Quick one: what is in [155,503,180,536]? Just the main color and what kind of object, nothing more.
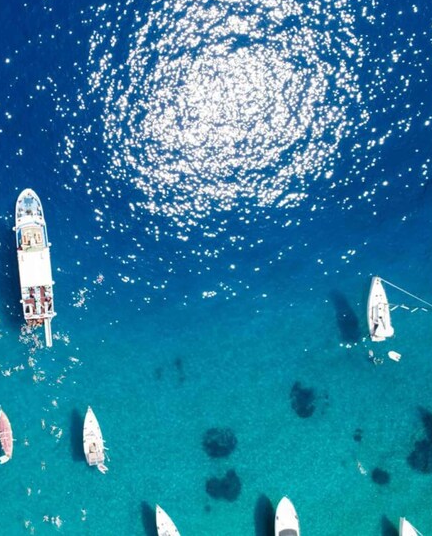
white boat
